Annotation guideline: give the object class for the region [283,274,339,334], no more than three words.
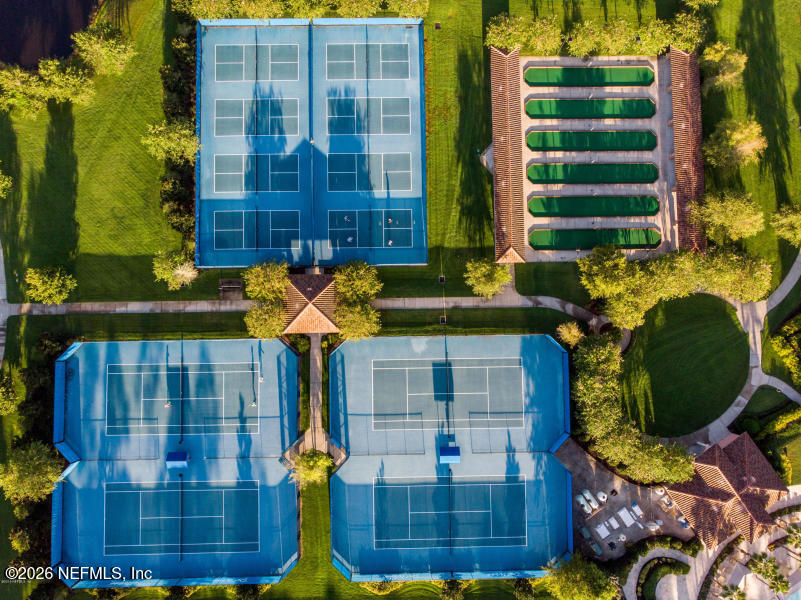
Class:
building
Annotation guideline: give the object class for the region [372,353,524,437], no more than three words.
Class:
tennis court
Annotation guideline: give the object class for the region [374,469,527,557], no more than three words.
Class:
tennis court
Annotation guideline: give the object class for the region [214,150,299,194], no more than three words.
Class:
sports court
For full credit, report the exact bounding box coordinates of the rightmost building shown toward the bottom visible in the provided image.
[666,431,789,550]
